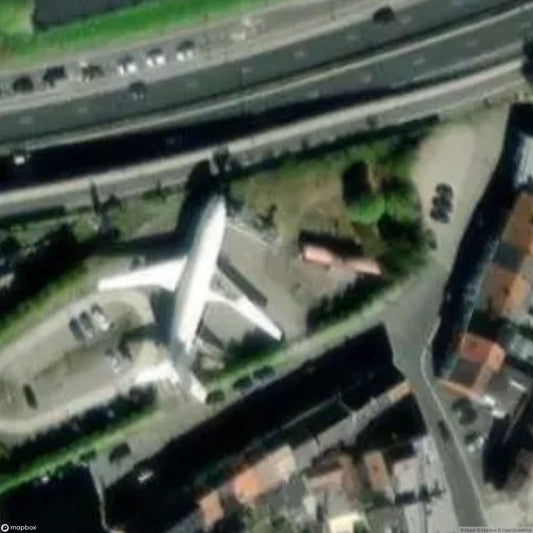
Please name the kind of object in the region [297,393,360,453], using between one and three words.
house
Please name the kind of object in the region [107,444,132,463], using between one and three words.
car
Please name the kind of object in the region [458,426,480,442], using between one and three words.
car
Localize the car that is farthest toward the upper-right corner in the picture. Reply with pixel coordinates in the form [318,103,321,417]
[372,9,398,24]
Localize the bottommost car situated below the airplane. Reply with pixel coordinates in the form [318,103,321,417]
[133,466,156,484]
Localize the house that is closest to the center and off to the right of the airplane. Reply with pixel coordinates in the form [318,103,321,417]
[298,235,335,264]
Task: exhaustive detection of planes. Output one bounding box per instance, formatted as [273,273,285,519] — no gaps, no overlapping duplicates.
[98,196,281,403]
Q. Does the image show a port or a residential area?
residential area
